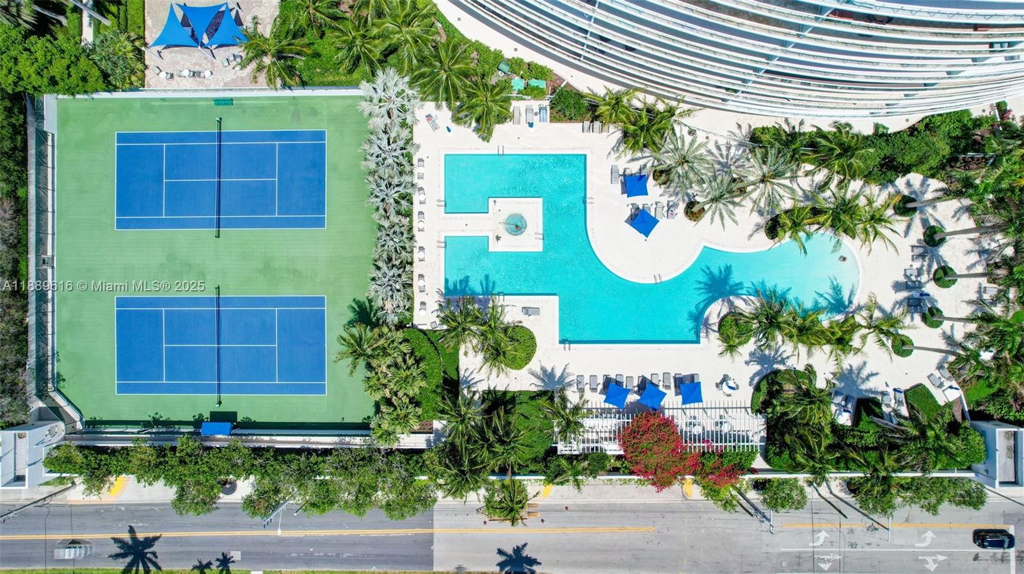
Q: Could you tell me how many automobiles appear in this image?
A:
two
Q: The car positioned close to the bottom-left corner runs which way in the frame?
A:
from left to right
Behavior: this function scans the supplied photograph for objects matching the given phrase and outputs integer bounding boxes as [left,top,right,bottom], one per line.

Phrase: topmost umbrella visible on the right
[624,175,646,197]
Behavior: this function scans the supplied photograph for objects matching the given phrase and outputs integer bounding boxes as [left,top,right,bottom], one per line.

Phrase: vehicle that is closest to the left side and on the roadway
[53,542,92,562]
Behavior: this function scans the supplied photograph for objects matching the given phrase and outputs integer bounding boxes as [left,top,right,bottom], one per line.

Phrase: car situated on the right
[975,530,1017,551]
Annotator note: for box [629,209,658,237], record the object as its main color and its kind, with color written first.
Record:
blue umbrella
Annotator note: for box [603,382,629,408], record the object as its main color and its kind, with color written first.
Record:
blue umbrella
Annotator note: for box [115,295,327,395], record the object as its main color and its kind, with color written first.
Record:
blue tennis court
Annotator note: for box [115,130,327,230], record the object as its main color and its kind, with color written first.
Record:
blue tennis court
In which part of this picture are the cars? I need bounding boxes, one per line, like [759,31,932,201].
[53,542,92,562]
[975,530,1017,551]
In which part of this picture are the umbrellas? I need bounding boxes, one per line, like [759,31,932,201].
[624,175,646,197]
[629,209,658,237]
[679,381,702,404]
[603,382,629,408]
[637,382,665,411]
